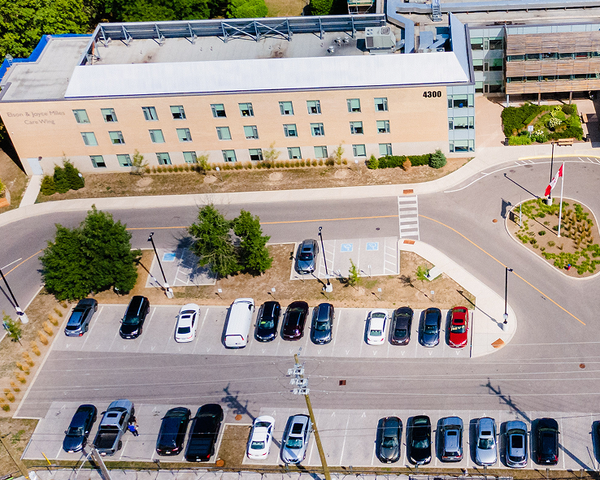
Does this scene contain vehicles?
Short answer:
Yes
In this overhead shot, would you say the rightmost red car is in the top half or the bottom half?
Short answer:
bottom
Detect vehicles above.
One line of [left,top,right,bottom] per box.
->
[61,301,100,338]
[61,404,102,454]
[253,301,282,342]
[375,416,403,467]
[437,417,464,467]
[472,417,499,469]
[364,310,389,349]
[220,301,258,348]
[502,421,527,468]
[418,308,442,349]
[533,419,560,469]
[245,416,278,465]
[405,416,432,467]
[309,302,336,343]
[117,294,154,340]
[182,404,225,465]
[390,308,414,348]
[294,240,319,274]
[152,407,193,460]
[446,308,470,349]
[89,398,137,458]
[171,306,203,344]
[280,301,308,342]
